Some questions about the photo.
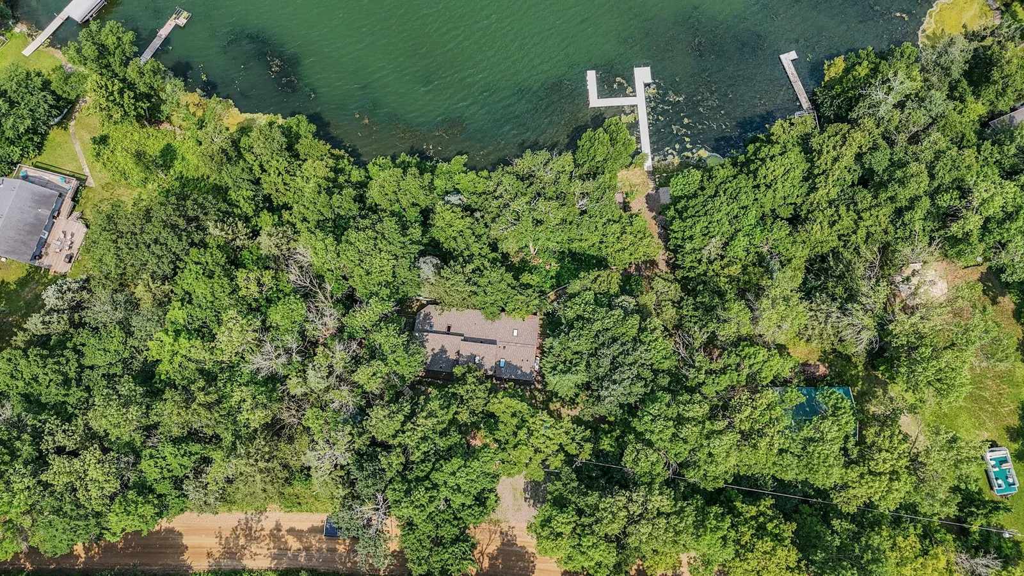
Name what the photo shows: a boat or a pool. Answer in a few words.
boat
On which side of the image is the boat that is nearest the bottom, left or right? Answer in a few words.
right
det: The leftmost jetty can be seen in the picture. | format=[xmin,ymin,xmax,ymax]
[22,11,69,56]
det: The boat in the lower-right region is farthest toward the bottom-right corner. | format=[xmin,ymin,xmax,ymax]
[986,444,1022,500]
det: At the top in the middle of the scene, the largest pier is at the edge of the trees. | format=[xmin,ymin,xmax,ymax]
[585,66,653,170]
